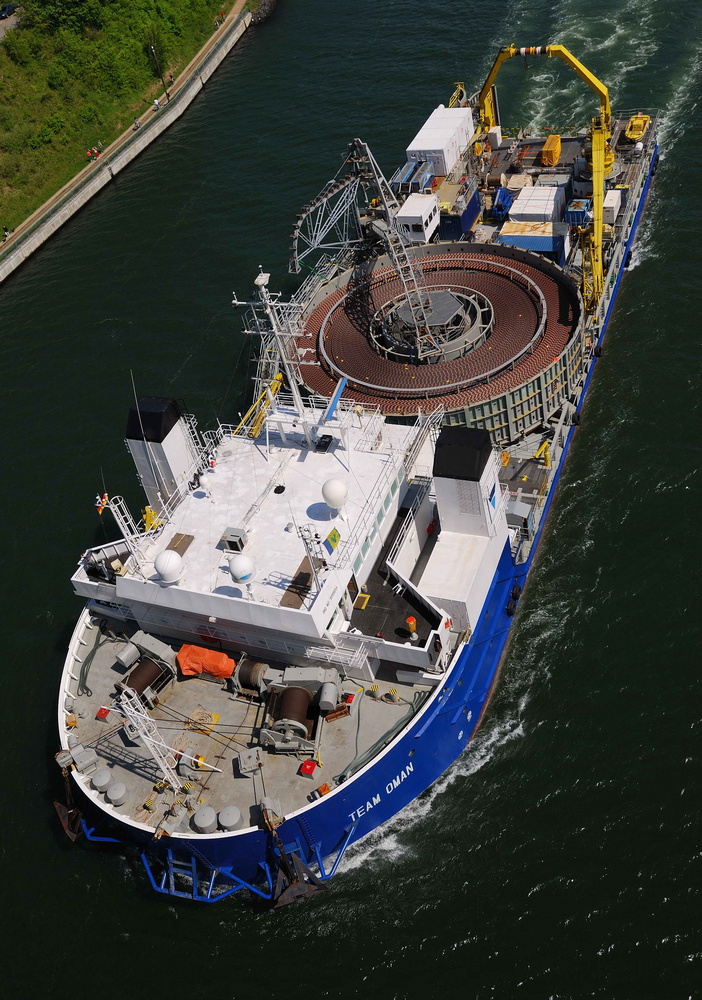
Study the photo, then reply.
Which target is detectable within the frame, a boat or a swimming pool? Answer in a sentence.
It is a boat that can be seen here.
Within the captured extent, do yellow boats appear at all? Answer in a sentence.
Yes, there is a yellow boat in the image.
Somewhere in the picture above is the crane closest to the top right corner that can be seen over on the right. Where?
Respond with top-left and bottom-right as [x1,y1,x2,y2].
[581,106,621,315]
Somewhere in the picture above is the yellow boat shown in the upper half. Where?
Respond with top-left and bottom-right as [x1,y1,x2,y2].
[626,109,652,141]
